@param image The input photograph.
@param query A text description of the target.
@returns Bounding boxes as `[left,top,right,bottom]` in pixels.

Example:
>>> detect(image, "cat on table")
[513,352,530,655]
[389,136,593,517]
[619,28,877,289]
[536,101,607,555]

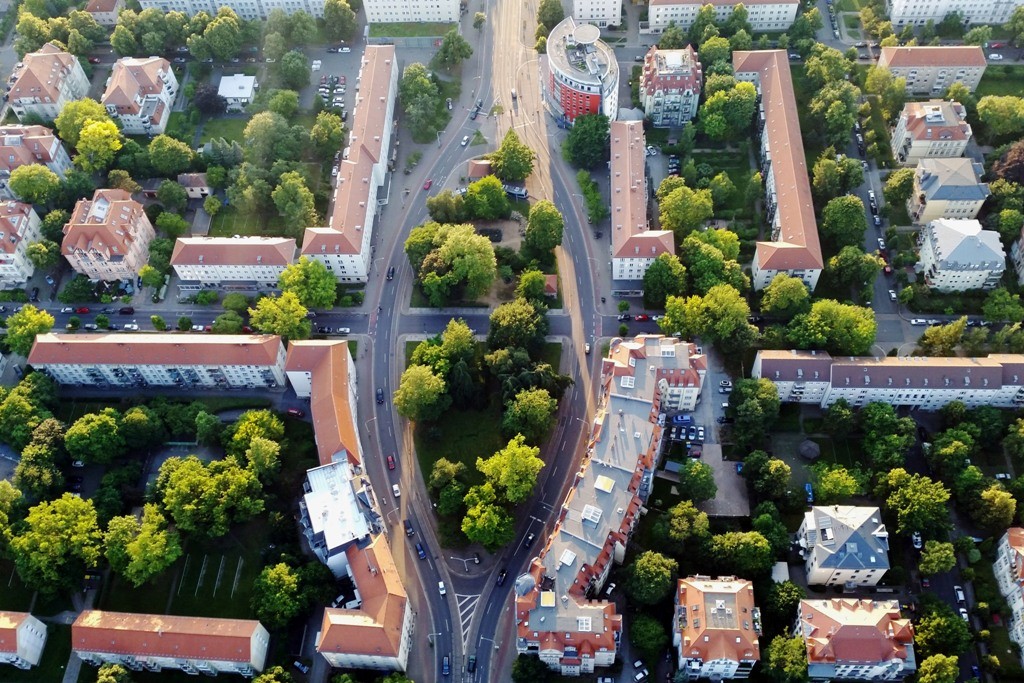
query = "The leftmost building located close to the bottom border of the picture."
[0,612,46,661]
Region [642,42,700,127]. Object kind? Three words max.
house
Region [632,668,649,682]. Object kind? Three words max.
car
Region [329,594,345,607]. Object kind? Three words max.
vehicle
